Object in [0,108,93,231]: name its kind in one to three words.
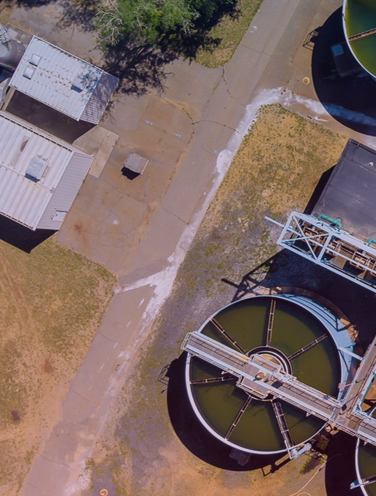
shed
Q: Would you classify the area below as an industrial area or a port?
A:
industrial area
